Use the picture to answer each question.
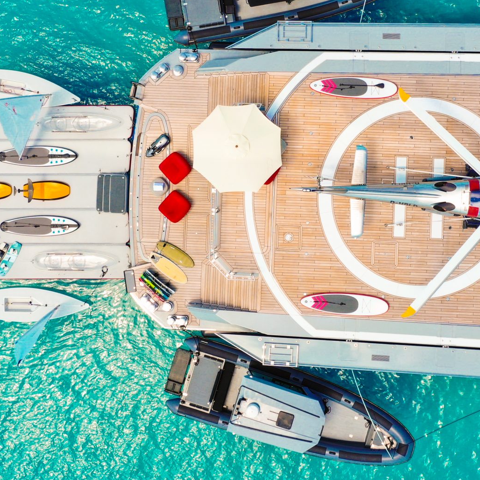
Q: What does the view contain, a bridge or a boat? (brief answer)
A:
boat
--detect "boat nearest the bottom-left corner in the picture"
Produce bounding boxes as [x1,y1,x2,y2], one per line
[0,288,90,368]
